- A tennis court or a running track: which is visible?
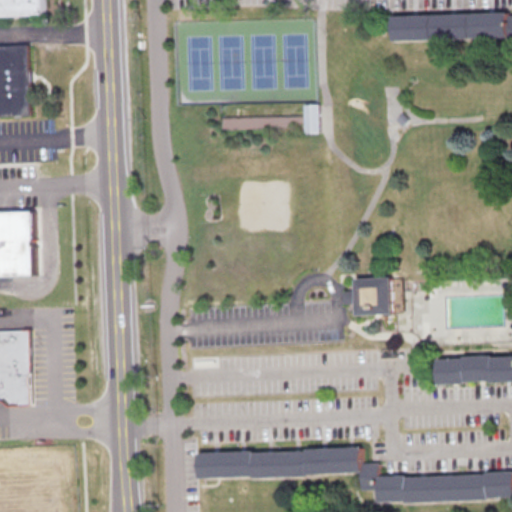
tennis court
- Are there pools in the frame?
Yes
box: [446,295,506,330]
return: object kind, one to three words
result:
swimming pool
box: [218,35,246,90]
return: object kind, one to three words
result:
tennis court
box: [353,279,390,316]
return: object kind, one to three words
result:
building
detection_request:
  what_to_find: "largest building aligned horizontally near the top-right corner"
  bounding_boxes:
[388,13,509,40]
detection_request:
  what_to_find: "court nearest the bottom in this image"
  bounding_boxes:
[240,180,290,232]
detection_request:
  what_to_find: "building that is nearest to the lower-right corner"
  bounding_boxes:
[374,472,512,503]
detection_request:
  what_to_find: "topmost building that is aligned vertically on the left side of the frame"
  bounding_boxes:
[0,44,32,116]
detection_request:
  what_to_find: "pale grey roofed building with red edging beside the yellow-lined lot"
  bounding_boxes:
[0,330,34,406]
